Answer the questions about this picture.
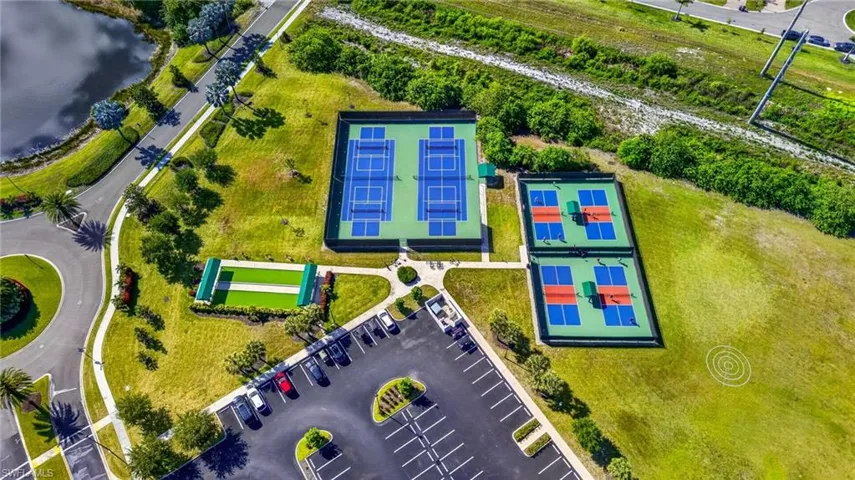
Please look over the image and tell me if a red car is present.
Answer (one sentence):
Yes, looking at the shot, I can spot a red car.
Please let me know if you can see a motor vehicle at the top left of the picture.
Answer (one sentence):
No, no motor vehicle can be made out at the top left of the picture.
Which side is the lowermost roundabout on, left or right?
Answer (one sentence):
The lowermost roundabout appears in the left half of the scene.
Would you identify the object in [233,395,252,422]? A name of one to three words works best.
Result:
car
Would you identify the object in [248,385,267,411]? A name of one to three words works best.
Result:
car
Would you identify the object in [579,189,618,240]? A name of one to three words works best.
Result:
sports court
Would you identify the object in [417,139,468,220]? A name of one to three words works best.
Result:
tennis court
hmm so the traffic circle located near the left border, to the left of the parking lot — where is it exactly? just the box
[0,227,98,376]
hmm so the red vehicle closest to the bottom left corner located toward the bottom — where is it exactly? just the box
[275,369,294,394]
